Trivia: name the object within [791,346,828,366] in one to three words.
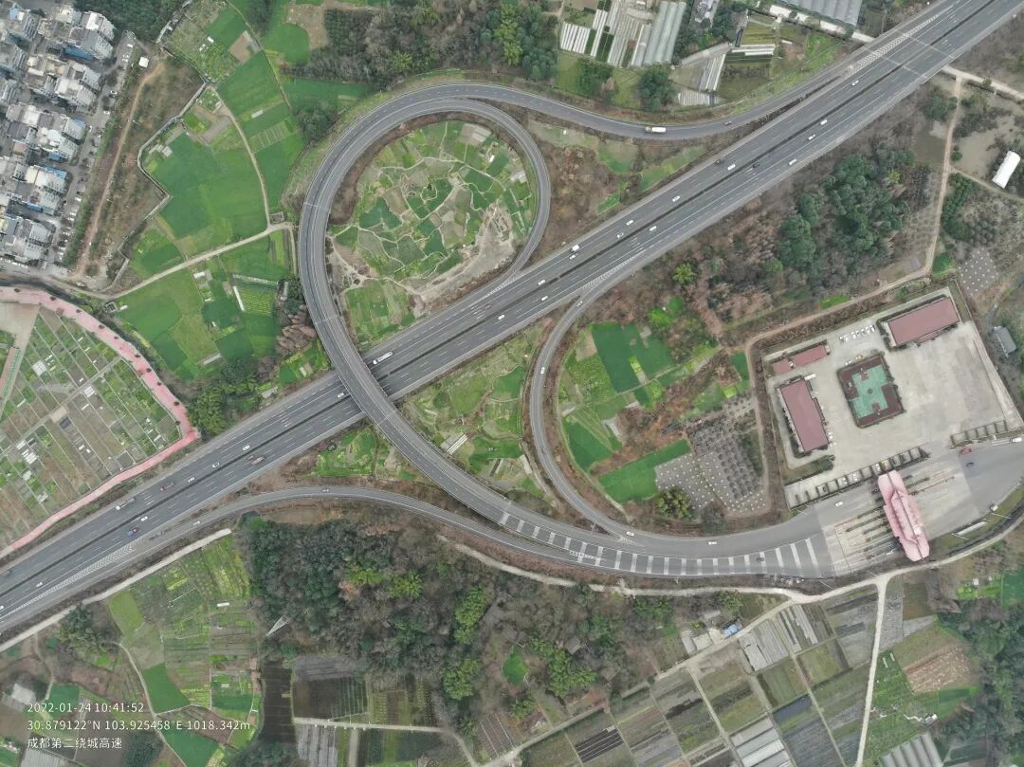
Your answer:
building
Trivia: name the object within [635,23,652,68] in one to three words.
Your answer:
greenhouse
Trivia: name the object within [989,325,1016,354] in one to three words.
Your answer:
shed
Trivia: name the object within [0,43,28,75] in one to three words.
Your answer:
house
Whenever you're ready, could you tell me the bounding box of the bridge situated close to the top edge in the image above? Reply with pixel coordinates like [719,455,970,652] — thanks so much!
[854,15,956,113]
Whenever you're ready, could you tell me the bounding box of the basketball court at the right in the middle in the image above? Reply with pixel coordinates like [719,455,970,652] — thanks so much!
[839,356,905,427]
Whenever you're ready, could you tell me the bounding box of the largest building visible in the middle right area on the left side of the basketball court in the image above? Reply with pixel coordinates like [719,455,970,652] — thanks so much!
[777,378,829,453]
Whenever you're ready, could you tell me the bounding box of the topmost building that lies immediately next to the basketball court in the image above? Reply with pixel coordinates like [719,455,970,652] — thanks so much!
[880,298,959,347]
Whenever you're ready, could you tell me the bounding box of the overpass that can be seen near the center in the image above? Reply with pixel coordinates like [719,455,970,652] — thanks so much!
[299,205,522,518]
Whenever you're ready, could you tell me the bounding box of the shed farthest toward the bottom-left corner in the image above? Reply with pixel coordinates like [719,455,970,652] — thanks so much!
[9,683,37,703]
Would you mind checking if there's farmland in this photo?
Yes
